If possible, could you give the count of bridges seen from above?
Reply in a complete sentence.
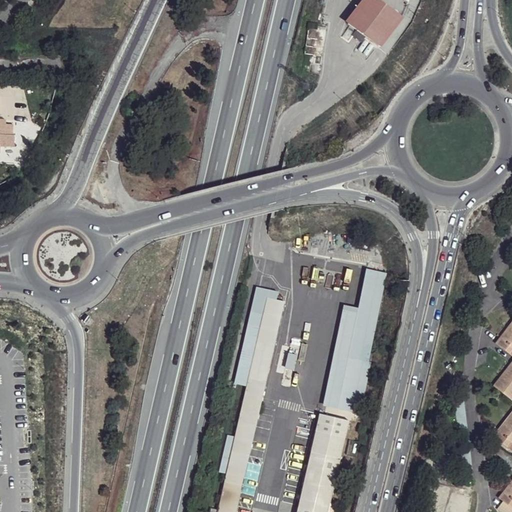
In total, 1 bridge can be seen.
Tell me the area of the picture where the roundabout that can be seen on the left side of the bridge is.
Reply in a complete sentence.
The roundabout that can be seen on the left side of the bridge is in the left part of the image.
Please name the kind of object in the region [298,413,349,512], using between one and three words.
building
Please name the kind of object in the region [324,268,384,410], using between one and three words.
building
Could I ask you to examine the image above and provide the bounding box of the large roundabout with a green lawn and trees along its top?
[385,72,512,208]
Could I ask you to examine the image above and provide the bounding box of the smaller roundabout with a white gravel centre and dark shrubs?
[14,206,112,304]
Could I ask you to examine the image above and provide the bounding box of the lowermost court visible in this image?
[434,486,470,512]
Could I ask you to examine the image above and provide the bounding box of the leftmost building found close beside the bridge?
[216,286,286,512]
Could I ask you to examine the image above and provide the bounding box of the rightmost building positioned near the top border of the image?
[348,0,404,46]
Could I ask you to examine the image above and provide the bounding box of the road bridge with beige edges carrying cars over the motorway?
[166,166,306,238]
